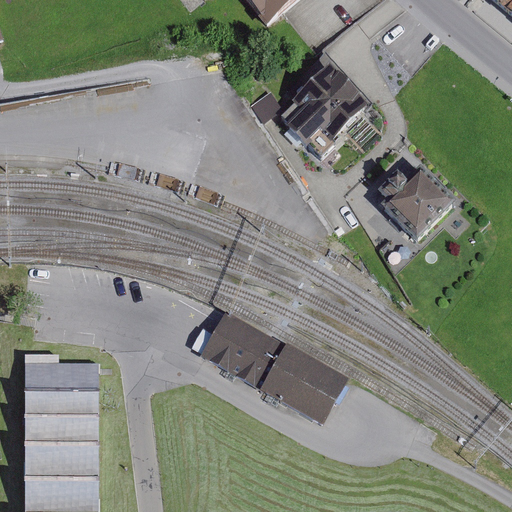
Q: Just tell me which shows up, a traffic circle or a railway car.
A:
railway car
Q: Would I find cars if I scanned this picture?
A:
Yes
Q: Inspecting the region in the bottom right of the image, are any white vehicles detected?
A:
No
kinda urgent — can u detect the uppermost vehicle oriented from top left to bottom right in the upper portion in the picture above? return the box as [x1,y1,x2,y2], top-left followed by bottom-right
[334,5,353,26]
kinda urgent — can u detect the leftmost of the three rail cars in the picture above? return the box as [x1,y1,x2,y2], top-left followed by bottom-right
[106,164,146,182]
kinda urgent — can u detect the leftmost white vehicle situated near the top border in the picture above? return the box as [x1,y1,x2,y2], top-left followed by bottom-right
[383,26,406,46]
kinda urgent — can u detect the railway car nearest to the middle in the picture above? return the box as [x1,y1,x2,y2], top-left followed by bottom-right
[187,186,225,208]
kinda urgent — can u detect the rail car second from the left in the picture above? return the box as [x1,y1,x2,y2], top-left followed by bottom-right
[147,174,186,193]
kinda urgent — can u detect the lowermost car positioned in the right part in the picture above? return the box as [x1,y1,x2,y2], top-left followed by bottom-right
[339,206,359,230]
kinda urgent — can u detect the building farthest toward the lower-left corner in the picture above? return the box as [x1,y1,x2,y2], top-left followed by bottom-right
[23,354,103,512]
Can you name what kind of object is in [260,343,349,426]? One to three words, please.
shed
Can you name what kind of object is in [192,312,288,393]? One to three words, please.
building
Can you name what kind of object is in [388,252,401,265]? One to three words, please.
umbrella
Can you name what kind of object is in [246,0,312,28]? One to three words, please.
house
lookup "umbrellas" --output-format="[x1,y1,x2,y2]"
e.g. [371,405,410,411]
[388,252,401,265]
[398,246,411,259]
